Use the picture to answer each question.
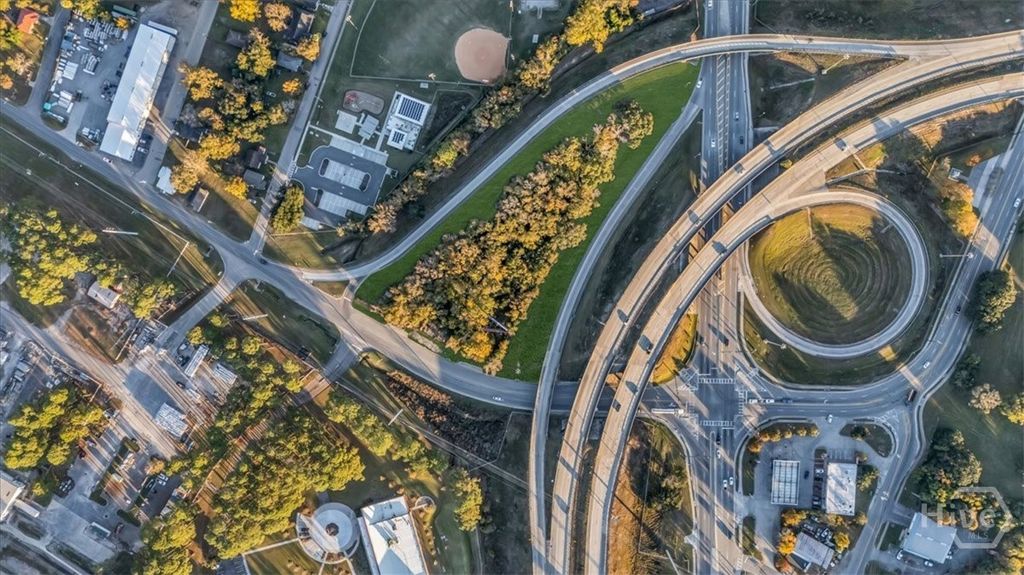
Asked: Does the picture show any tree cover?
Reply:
Yes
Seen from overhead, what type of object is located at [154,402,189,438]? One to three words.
shed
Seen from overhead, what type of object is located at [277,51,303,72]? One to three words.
house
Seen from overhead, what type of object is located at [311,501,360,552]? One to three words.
building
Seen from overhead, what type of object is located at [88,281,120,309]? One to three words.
shed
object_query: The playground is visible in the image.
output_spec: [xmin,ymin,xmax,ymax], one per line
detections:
[344,90,384,113]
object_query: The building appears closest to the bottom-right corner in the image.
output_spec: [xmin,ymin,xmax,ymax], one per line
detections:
[899,511,957,564]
